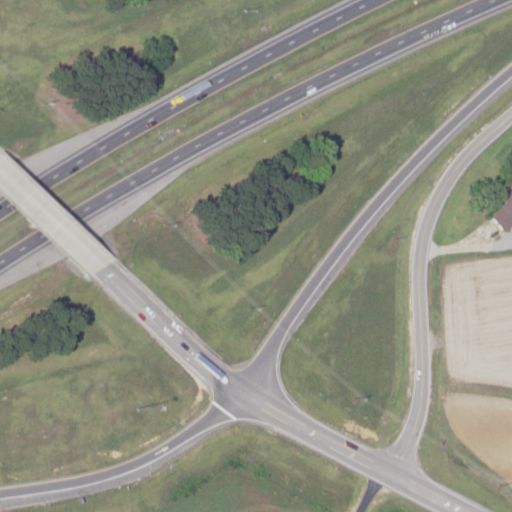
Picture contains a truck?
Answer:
Yes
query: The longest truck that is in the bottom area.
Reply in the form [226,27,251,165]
[196,350,230,384]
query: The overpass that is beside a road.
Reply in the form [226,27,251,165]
[0,146,116,280]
